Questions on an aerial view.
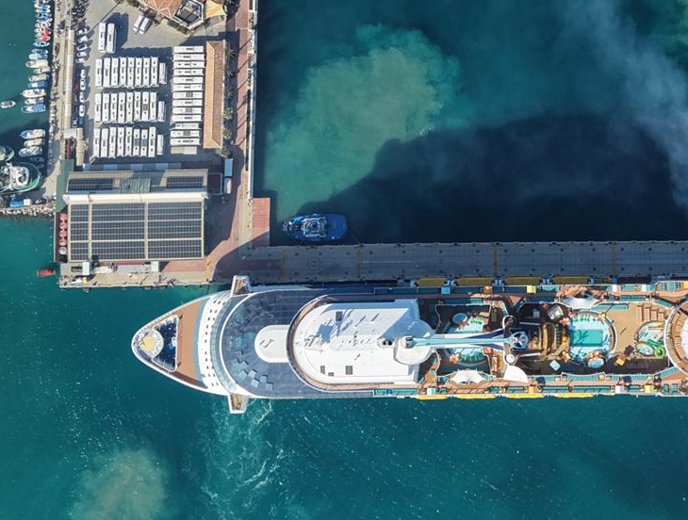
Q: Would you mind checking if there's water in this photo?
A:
Yes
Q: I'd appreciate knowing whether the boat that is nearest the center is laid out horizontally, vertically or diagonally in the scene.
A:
horizontally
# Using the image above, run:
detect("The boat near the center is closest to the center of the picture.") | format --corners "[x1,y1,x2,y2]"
[281,214,349,243]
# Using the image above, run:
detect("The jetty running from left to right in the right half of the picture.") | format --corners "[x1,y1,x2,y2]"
[271,240,688,283]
